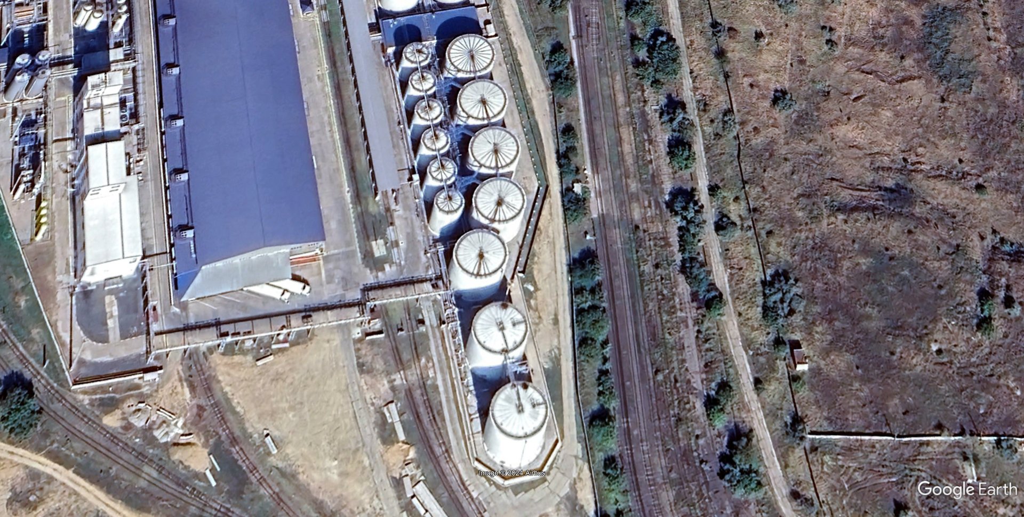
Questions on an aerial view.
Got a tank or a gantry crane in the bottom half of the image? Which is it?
tank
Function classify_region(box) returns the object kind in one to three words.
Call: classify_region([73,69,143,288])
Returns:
building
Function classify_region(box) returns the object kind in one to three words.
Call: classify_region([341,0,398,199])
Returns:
shed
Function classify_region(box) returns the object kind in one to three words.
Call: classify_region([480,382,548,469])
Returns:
storage tank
